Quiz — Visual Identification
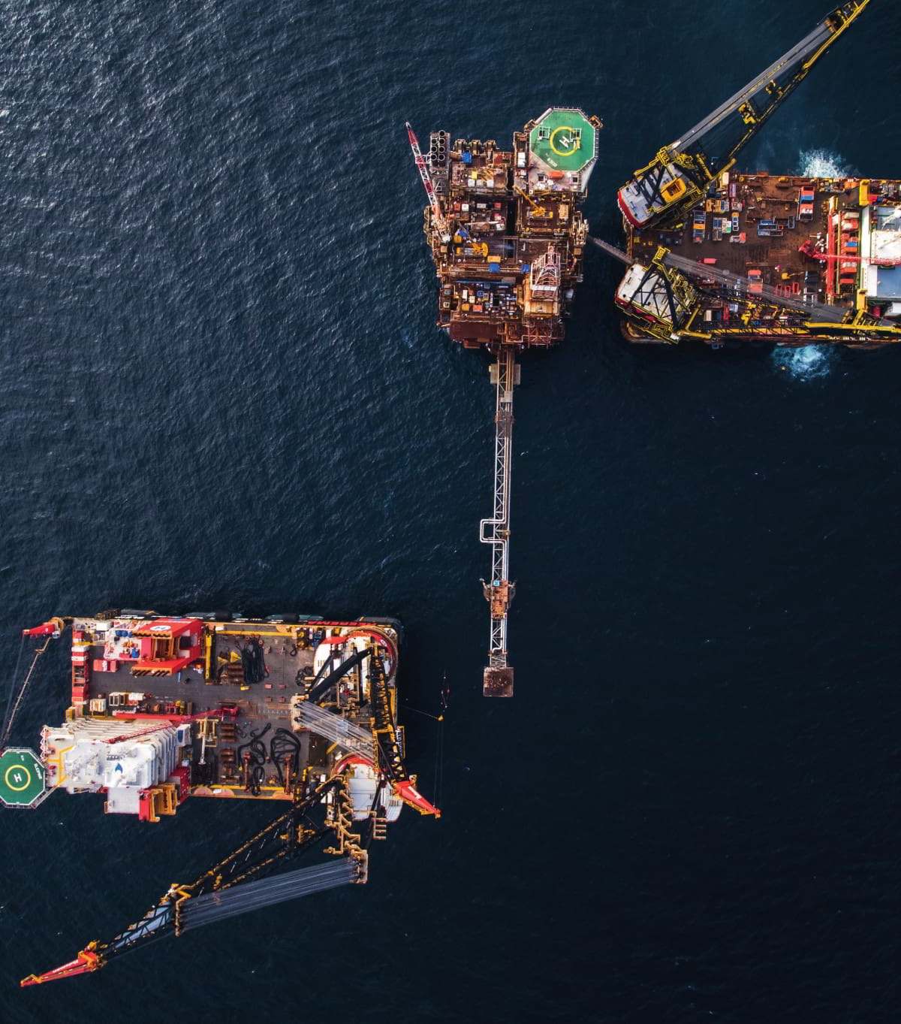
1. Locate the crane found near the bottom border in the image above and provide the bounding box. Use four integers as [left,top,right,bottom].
[19,741,402,987]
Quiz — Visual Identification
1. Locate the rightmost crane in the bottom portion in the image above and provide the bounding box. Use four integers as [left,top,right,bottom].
[293,628,442,817]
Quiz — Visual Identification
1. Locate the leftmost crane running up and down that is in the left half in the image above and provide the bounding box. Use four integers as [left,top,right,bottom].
[205,626,219,683]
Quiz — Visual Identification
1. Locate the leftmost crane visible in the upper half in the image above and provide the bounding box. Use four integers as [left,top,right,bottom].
[406,121,450,249]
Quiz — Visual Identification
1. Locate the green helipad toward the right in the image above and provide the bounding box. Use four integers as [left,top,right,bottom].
[526,107,599,176]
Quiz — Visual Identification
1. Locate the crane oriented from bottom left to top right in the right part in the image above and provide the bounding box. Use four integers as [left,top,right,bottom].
[615,0,871,235]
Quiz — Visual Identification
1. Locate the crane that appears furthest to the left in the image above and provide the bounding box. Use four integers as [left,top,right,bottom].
[1,613,95,741]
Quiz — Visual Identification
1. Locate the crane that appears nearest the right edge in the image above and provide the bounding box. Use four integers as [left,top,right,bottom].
[796,234,901,271]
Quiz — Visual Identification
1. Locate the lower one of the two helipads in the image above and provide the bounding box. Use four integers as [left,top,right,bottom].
[0,746,62,808]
